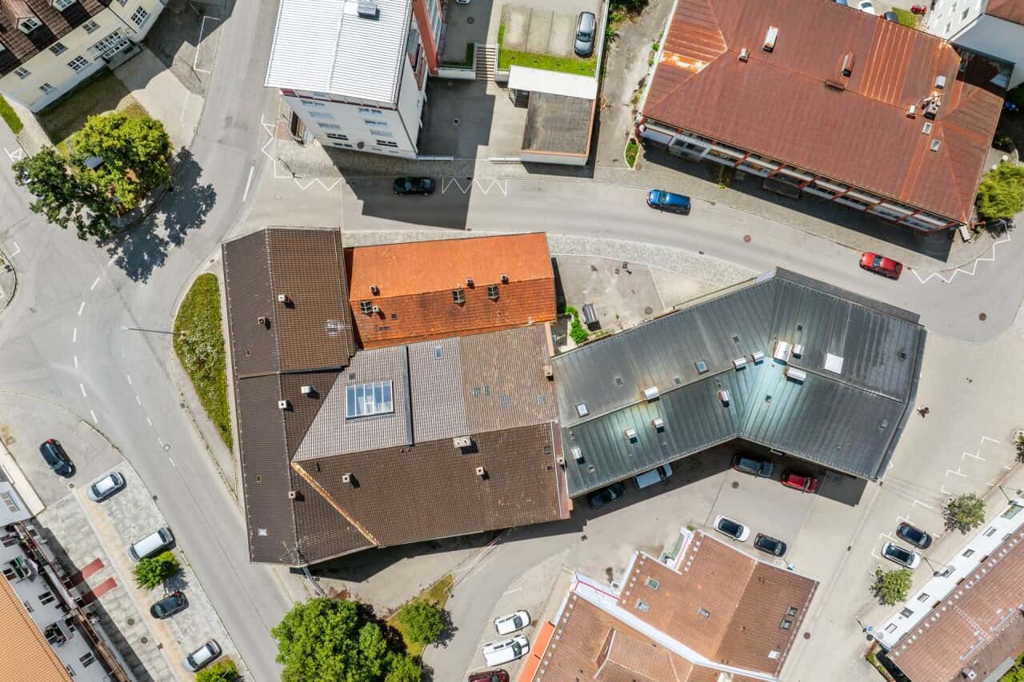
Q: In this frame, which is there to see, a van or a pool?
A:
van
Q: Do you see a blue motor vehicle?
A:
Yes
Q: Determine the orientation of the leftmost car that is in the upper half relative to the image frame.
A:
horizontally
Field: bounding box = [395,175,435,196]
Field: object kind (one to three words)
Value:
car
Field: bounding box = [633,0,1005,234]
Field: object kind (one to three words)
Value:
building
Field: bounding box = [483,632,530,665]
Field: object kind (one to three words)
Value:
van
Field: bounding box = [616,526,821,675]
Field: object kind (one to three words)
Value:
house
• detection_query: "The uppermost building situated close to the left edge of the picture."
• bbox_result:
[0,0,171,112]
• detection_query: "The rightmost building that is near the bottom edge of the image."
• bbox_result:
[879,503,1024,682]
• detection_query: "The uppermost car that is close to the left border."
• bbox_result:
[42,436,77,477]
